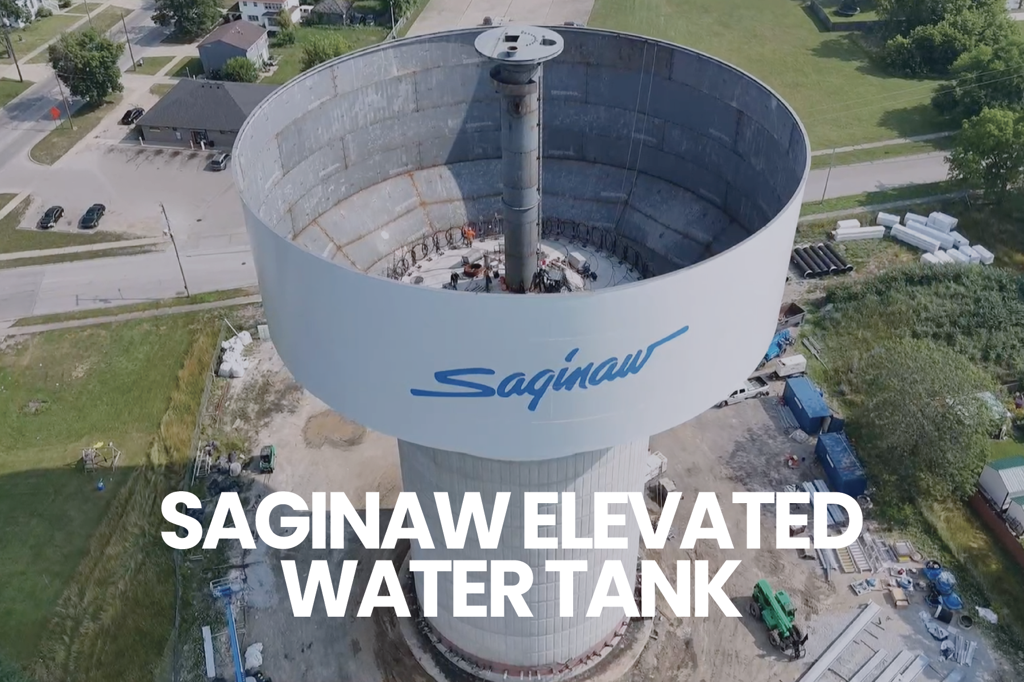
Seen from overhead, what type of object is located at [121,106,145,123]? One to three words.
car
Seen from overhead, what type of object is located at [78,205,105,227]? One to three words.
car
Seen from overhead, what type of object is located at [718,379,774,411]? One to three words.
truck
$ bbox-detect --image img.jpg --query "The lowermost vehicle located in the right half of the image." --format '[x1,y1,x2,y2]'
[743,581,803,666]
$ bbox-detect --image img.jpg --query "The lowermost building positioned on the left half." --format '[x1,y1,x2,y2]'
[137,76,284,147]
